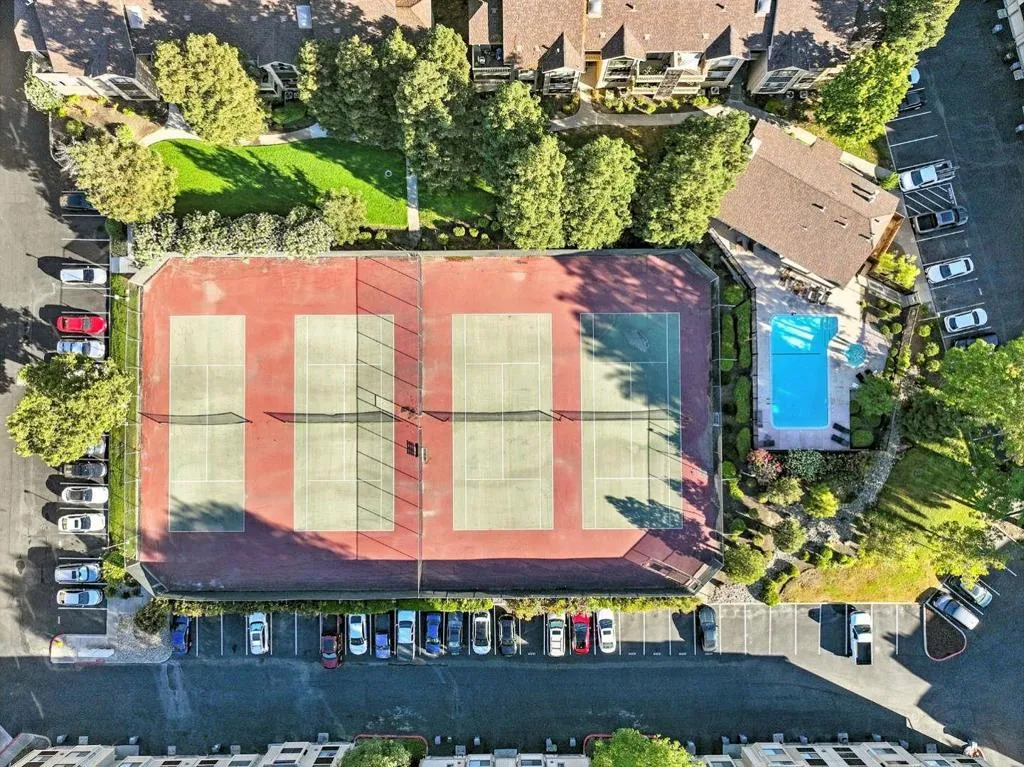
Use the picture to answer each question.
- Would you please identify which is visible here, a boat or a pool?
pool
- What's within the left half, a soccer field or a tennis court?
tennis court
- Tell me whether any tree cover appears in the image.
Yes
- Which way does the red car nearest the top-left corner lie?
horizontally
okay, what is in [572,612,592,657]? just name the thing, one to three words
car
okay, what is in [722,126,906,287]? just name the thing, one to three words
building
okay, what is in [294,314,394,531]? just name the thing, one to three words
tennis court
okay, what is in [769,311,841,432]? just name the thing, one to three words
swimming pool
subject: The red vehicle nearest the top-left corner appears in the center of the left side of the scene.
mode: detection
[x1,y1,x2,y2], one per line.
[56,314,108,334]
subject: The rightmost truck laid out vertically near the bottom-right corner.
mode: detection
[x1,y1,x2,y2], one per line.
[849,609,874,666]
